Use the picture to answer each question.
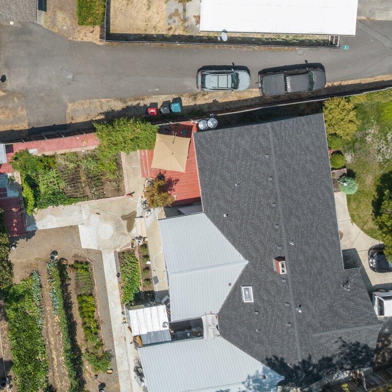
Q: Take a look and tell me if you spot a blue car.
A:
No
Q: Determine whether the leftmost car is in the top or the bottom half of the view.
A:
top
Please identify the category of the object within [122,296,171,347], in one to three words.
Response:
shed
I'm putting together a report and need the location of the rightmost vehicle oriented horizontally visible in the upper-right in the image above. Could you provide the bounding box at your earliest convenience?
[256,67,327,96]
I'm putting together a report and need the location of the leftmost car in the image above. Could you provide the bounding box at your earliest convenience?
[195,67,251,93]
